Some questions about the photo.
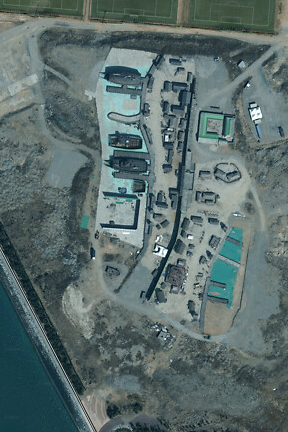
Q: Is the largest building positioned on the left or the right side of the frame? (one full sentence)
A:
The largest building appears in the right half of the scene.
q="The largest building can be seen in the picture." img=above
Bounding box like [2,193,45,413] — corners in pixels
[198,112,234,141]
